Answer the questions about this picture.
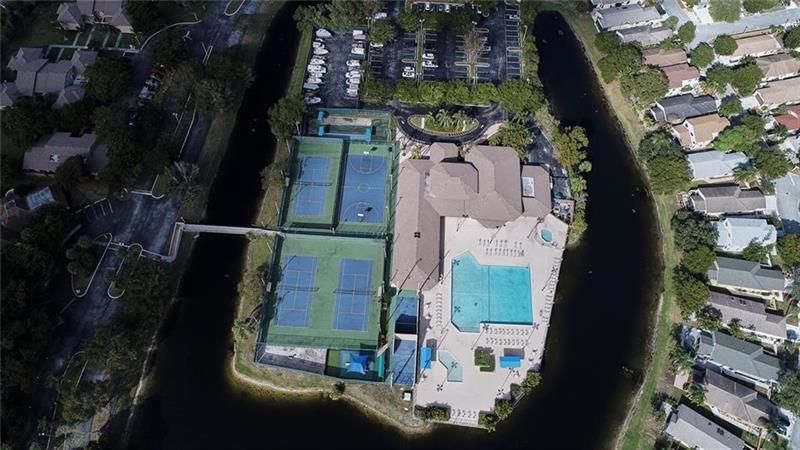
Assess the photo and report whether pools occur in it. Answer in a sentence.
Yes, I can see a pool in this picture.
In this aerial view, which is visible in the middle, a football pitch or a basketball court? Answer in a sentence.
The one visible in the middle is a basketball court.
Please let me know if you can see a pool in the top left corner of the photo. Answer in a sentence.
No, there is no pool in the top left corner of the photo.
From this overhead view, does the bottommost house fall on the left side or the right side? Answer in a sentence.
You can find the bottommost house on the right side of the picture.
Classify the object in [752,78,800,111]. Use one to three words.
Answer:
house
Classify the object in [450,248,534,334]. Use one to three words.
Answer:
swimming pool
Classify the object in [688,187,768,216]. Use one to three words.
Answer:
house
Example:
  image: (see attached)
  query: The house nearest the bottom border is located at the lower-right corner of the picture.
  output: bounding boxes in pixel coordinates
[666,402,755,450]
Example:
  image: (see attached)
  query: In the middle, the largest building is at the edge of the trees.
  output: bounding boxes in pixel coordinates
[391,142,551,292]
